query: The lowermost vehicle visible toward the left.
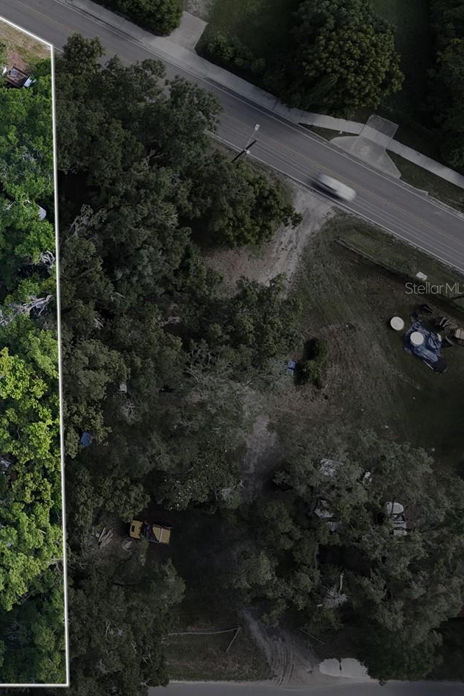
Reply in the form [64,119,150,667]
[131,518,172,544]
